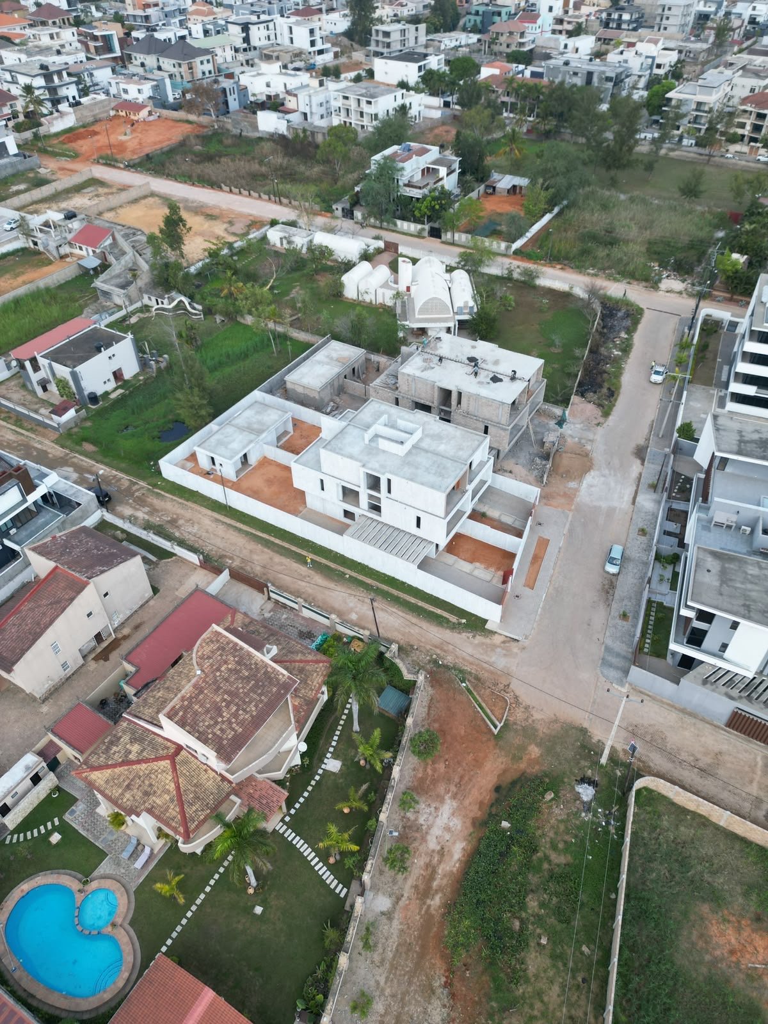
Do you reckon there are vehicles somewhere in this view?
Yes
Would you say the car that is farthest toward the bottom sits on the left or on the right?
right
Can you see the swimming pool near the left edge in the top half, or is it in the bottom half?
bottom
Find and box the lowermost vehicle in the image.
[604,542,625,574]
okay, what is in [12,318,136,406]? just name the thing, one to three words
house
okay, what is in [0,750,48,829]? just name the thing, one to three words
shed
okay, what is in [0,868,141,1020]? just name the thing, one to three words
swimming pool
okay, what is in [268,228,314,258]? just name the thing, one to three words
building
